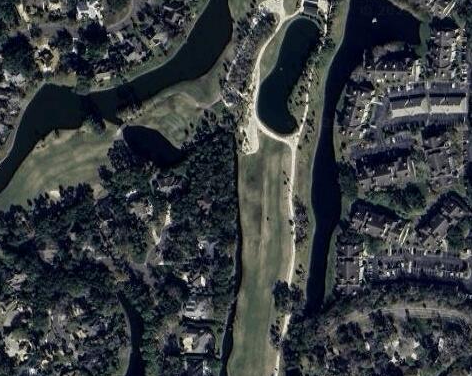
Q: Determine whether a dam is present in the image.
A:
No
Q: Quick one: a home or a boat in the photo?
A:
home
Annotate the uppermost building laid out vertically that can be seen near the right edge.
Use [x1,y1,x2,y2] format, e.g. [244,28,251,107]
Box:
[429,28,455,82]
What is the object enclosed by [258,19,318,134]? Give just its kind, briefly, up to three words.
pond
